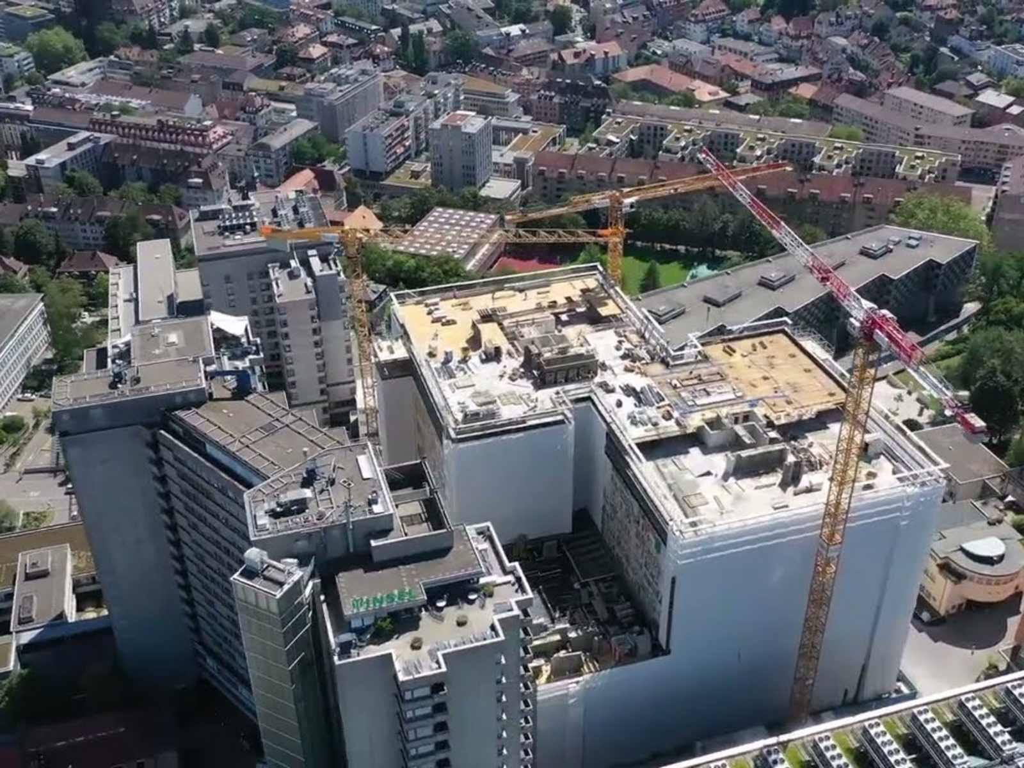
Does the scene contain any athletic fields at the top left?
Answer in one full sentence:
No, there is no athletic field at the top left.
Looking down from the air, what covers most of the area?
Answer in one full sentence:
The bulk of the photo consists of buildings.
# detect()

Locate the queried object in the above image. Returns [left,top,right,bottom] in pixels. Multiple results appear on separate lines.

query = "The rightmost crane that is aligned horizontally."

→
[505,160,793,301]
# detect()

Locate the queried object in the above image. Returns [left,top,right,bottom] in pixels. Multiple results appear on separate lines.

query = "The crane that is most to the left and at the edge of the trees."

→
[256,230,631,477]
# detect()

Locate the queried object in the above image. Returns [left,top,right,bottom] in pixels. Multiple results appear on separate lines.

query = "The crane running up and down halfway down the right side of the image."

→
[693,147,984,736]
